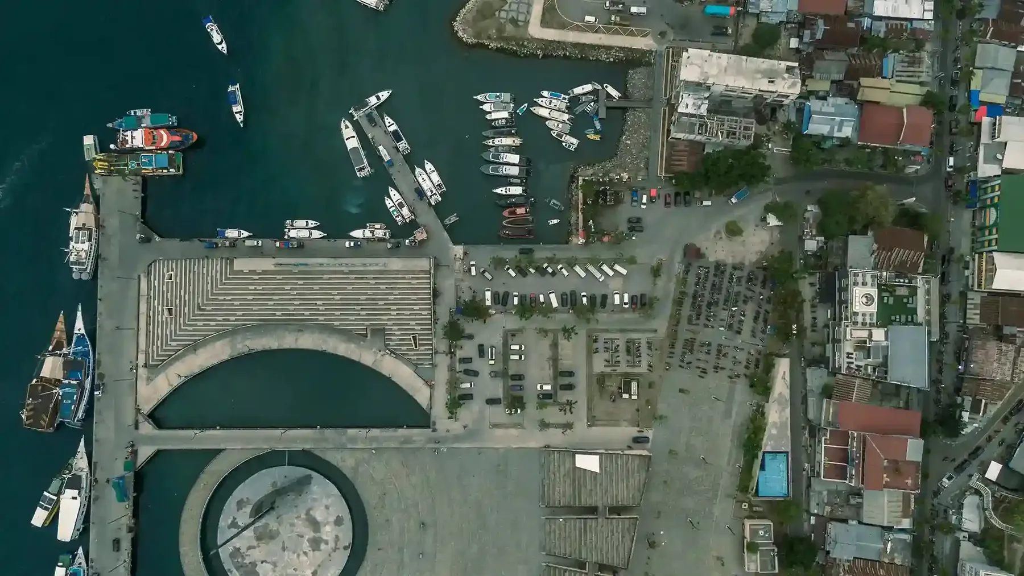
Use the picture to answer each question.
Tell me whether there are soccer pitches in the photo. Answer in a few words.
No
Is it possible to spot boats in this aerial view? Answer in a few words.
Yes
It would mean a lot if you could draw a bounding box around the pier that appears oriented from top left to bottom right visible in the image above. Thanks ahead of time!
[353,108,455,249]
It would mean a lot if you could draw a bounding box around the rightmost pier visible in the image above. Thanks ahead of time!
[598,89,652,119]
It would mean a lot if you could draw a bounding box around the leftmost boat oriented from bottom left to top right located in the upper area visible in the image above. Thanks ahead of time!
[349,89,392,119]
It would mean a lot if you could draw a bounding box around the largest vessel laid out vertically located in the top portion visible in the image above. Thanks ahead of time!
[65,173,101,280]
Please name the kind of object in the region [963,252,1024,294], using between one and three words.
house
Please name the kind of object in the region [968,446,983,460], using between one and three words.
car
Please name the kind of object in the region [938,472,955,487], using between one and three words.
vehicle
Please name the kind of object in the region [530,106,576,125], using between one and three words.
boat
